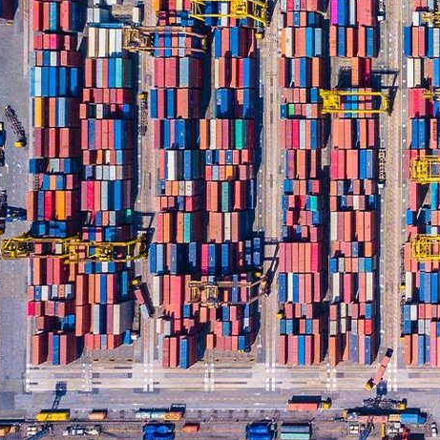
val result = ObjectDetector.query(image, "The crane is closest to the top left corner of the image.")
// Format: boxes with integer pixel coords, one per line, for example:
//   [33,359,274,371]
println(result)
[125,25,208,58]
